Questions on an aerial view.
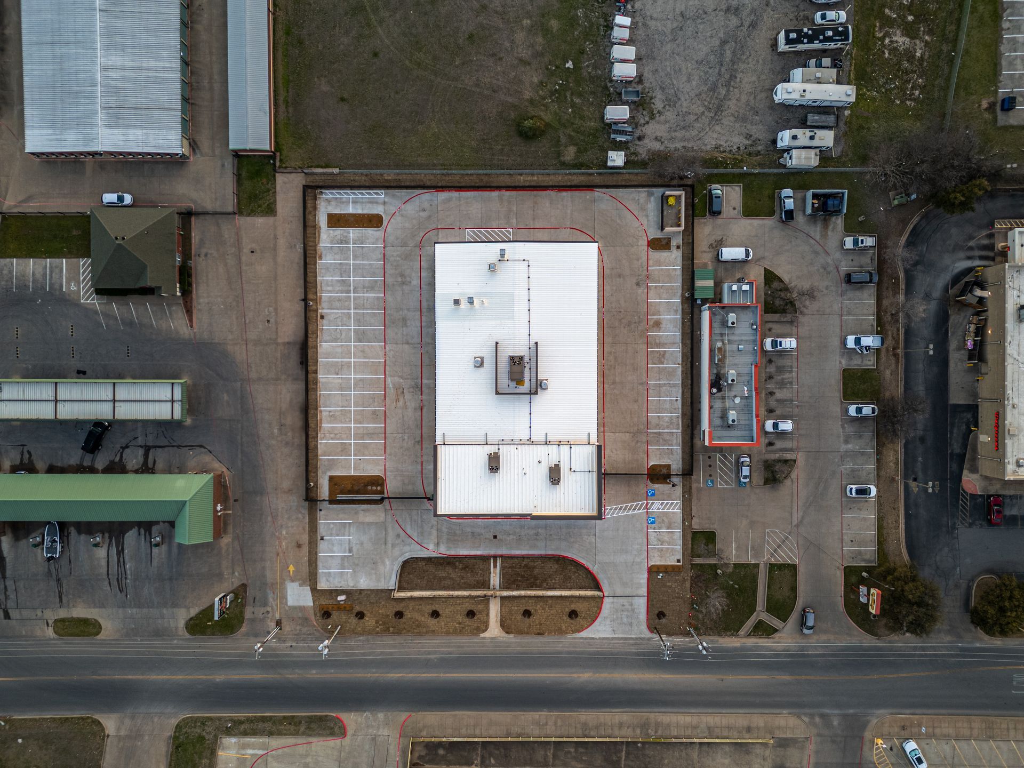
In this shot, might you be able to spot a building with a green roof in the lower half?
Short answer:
Yes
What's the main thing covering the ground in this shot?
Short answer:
paved ground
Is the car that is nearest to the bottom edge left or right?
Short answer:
right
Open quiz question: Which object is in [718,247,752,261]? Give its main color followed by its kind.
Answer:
white vehicle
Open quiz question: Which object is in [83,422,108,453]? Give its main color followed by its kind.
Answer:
black truck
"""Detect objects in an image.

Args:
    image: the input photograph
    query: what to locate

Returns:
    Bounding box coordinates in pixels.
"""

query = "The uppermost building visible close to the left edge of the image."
[25,0,190,161]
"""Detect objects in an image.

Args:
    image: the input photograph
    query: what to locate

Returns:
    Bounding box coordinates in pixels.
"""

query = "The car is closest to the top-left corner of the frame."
[102,192,134,206]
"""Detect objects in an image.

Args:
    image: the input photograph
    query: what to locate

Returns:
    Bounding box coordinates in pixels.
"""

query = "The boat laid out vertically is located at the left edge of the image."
[46,522,60,562]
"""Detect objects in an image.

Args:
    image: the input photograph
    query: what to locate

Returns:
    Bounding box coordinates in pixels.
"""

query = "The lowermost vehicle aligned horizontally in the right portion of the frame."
[845,484,876,498]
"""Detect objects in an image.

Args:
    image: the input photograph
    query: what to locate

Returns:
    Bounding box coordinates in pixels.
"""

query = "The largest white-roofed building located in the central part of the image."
[434,241,602,520]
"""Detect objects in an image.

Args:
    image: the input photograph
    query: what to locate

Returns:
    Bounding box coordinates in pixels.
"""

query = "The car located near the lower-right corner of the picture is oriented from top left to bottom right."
[903,738,927,768]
